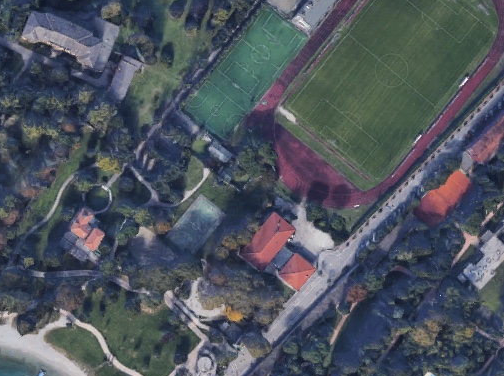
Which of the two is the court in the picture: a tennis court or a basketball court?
tennis court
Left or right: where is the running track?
right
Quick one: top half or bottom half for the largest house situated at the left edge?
top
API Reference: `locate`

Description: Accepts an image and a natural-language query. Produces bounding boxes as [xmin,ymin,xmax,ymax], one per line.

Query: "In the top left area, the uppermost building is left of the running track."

[22,10,120,72]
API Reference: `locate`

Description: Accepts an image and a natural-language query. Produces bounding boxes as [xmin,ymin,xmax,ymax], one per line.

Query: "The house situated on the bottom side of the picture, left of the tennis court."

[60,208,105,255]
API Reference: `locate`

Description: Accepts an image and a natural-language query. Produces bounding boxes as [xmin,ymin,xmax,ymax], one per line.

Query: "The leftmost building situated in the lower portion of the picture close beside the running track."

[238,211,296,271]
